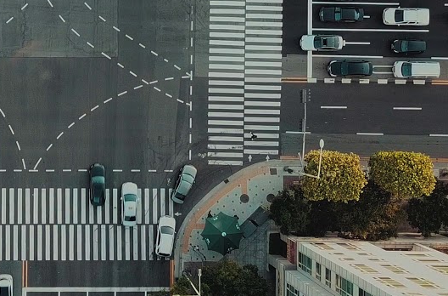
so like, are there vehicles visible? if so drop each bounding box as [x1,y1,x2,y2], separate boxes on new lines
[326,58,373,79]
[155,213,177,257]
[87,162,106,206]
[381,6,430,27]
[171,163,197,205]
[298,33,345,52]
[318,5,365,24]
[392,59,445,80]
[120,181,140,226]
[0,273,13,296]
[278,167,297,173]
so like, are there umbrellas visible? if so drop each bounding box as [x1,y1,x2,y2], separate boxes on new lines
[200,209,244,255]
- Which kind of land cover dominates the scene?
paved ground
